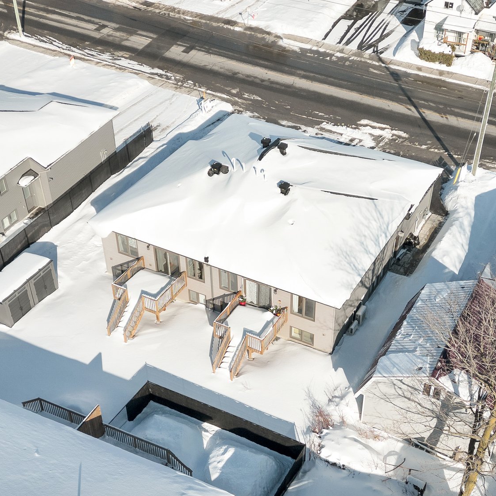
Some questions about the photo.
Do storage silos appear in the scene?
No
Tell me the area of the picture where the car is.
top right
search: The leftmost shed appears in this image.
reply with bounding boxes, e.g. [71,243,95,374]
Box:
[0,256,53,327]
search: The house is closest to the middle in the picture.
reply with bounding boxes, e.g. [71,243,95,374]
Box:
[83,109,444,356]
